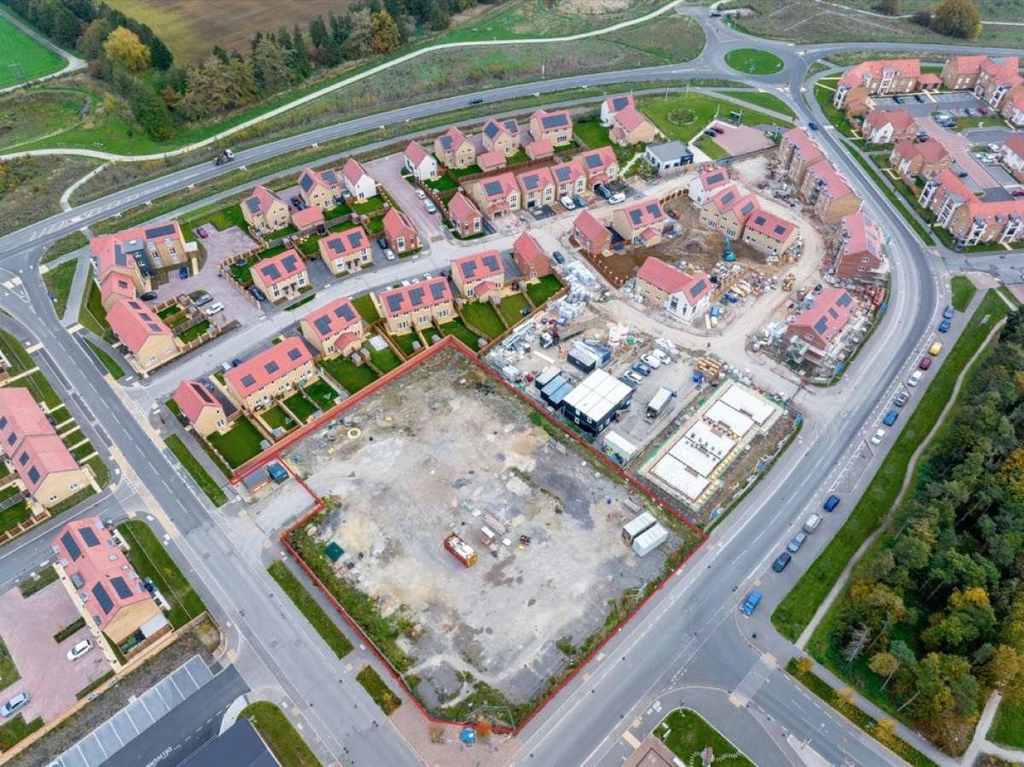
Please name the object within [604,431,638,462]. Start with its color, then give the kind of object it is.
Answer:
white shipping container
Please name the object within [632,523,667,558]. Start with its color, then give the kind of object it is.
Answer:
white shipping container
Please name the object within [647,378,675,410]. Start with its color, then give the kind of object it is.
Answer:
white truck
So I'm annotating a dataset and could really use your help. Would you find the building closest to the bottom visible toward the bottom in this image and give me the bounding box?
[175,716,287,767]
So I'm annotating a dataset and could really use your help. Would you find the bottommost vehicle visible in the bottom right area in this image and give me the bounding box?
[741,587,763,616]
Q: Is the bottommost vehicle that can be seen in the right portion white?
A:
No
